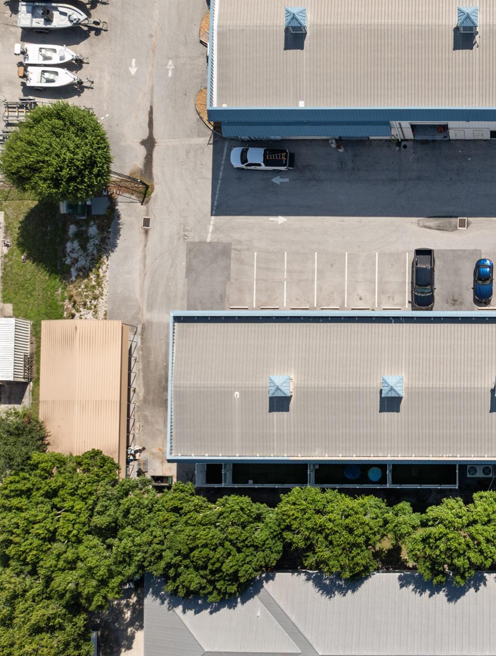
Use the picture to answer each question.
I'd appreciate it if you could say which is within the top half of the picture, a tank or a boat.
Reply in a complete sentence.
The one visible within the top half of the picture is a boat.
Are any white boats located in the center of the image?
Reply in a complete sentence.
No, in the center of the image there is no white boat.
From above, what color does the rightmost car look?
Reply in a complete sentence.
In this view, the rightmost car is blue.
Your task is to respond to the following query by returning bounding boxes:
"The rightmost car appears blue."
[473,258,496,303]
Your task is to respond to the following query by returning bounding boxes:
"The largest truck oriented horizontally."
[229,142,297,171]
